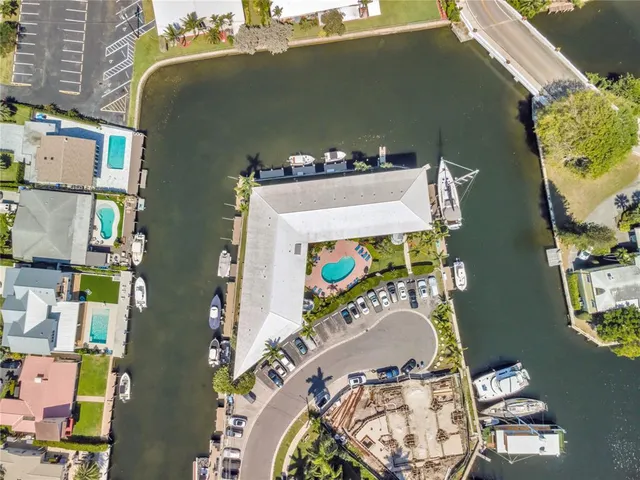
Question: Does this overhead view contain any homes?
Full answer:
Yes, you can see a home in this photo.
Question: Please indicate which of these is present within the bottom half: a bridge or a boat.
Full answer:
The feature located within the bottom half is a boat.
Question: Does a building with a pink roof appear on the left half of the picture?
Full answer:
Yes, a building with a pink roof shows up on the left half of the picture.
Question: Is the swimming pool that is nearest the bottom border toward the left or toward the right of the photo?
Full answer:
The swimming pool that is nearest the bottom border sits on the left side.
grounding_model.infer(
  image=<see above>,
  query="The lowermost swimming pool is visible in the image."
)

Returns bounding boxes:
[88,308,111,345]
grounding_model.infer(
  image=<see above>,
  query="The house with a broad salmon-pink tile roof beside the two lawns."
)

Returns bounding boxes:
[0,355,80,433]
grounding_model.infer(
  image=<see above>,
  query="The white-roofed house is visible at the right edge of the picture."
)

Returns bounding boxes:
[576,256,640,312]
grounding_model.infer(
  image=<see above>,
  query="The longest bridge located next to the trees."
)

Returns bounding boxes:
[471,19,592,99]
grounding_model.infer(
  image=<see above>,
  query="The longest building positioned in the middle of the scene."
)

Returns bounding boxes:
[234,162,432,379]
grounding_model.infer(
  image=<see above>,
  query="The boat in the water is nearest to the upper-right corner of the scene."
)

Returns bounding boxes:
[438,156,478,231]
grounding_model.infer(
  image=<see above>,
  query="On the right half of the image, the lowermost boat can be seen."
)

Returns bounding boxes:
[482,423,566,461]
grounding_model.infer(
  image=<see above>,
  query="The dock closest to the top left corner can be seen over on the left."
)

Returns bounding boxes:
[128,132,148,194]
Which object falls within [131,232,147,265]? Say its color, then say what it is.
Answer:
white boat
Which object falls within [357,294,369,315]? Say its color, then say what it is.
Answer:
white vehicle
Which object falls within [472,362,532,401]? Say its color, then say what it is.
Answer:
white boat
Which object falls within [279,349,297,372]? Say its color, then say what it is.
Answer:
white vehicle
